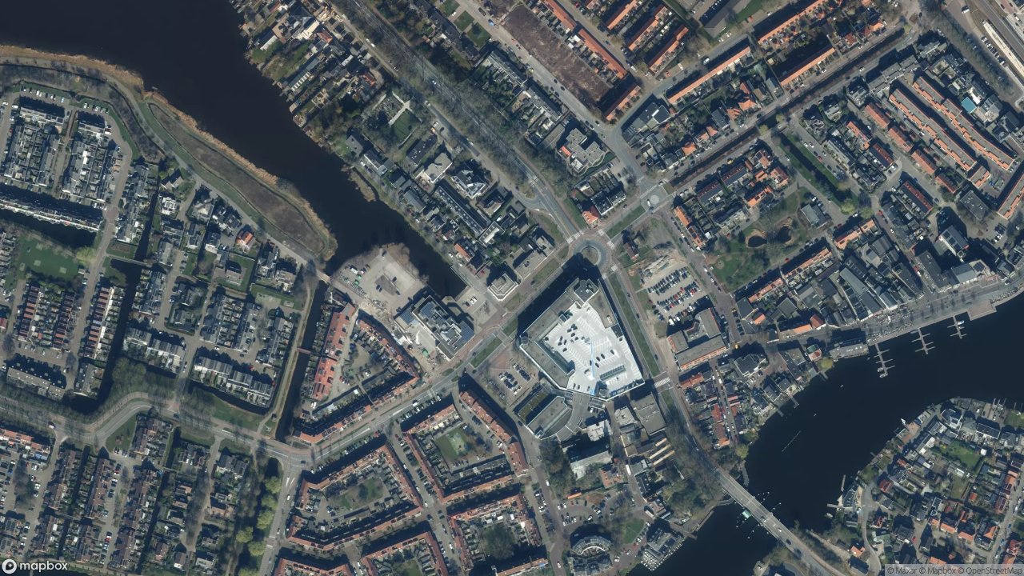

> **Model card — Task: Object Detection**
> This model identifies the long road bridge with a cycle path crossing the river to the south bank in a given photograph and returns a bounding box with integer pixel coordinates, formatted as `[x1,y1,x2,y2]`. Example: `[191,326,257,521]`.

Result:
[720,471,820,569]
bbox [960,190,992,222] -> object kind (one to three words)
building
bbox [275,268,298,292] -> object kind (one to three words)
house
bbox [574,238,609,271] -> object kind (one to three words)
roundabout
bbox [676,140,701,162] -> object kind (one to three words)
house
